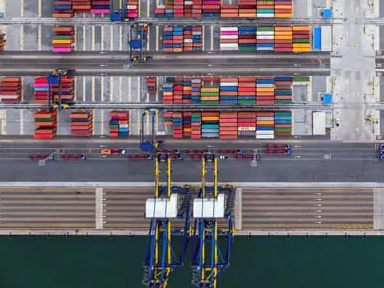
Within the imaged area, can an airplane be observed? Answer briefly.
No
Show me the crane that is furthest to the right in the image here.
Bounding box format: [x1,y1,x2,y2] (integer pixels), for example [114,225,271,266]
[185,155,242,288]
